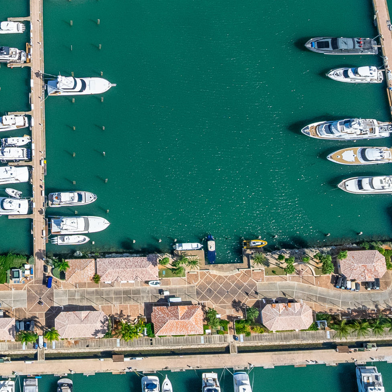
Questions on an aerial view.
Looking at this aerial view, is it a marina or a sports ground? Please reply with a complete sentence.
This looks like a marina.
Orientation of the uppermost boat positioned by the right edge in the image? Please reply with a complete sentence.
I'd say the uppermost boat positioned by the right edge is aligned horizontally in the picture.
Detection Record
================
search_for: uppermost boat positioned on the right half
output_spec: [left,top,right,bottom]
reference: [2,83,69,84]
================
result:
[305,37,379,57]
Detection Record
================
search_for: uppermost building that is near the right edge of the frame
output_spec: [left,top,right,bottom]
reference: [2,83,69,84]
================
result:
[338,251,387,283]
